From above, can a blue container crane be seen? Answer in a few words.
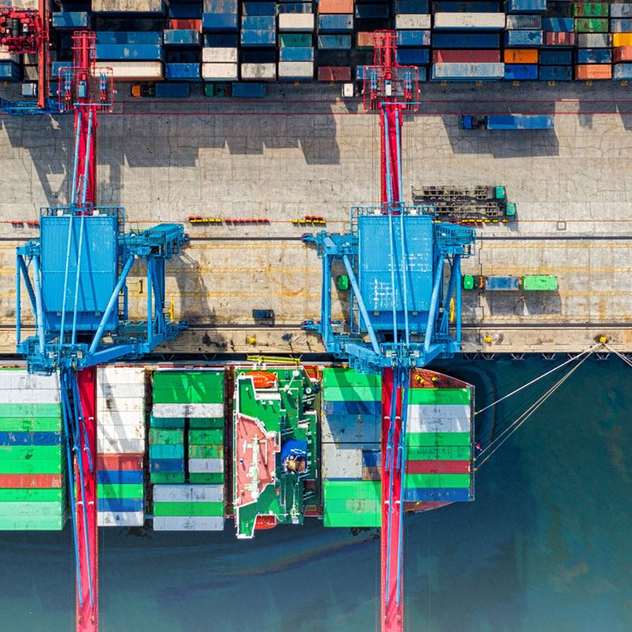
Yes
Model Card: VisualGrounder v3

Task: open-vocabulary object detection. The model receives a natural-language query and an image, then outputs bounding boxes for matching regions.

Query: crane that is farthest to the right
[299,30,480,632]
